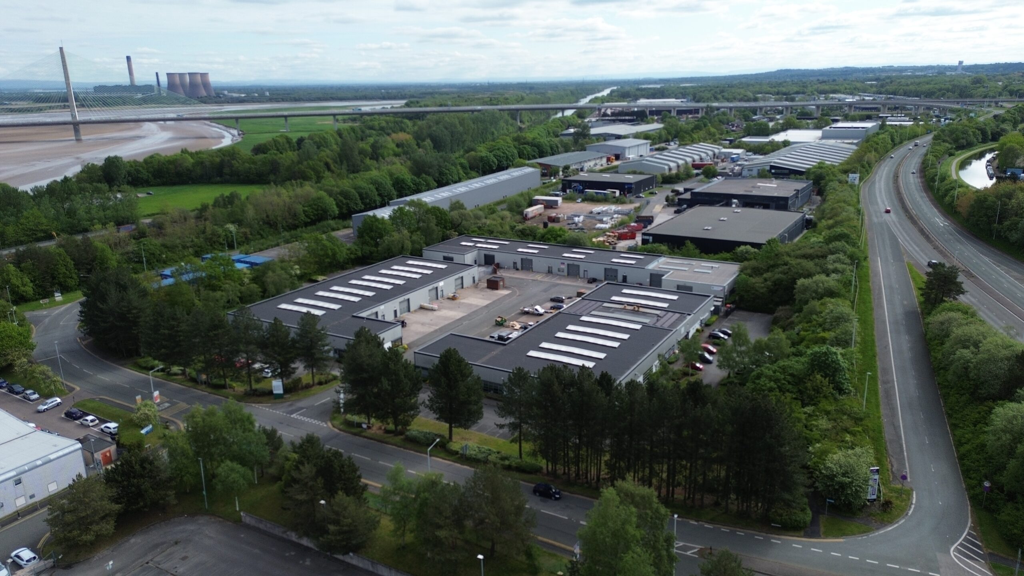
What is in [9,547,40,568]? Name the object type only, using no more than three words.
car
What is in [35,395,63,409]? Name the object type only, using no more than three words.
car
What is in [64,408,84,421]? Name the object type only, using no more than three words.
vehicle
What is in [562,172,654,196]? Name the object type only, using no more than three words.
building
